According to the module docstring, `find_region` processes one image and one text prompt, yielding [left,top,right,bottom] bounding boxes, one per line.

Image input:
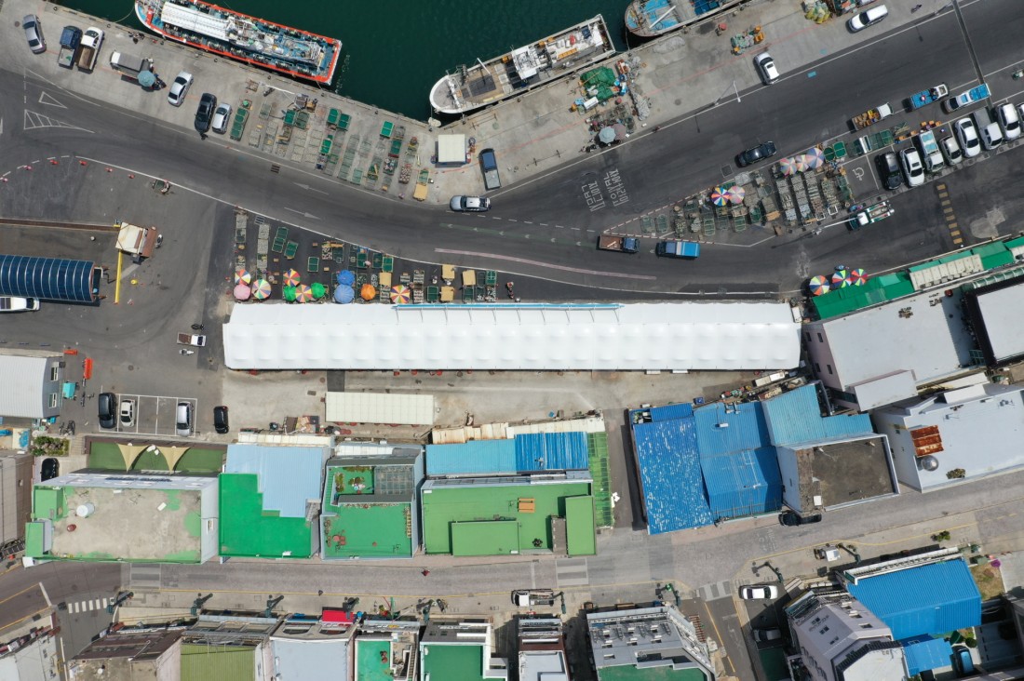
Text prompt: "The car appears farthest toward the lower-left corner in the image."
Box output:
[40,456,61,483]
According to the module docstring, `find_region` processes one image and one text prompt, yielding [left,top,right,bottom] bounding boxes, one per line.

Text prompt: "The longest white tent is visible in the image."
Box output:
[223,302,800,371]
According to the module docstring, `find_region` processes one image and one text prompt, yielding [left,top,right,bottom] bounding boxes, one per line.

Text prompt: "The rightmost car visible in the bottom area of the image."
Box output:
[950,643,977,676]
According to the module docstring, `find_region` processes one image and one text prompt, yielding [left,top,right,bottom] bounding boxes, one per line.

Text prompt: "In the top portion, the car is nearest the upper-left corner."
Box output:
[23,14,49,55]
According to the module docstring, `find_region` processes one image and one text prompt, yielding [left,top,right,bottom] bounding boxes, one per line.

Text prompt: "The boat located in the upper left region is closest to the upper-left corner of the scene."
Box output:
[135,0,342,89]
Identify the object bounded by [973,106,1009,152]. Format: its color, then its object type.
gray truck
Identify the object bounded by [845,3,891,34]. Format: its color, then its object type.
white car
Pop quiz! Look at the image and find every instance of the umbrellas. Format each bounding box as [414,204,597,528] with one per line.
[984,557,1000,568]
[598,126,616,144]
[779,158,796,175]
[728,186,744,203]
[809,275,829,295]
[795,156,810,172]
[283,287,297,301]
[138,69,157,87]
[361,285,376,300]
[391,285,410,302]
[252,279,271,298]
[712,188,730,207]
[612,124,627,141]
[831,269,851,288]
[335,285,355,302]
[312,283,326,297]
[284,269,301,286]
[296,286,312,302]
[338,269,355,286]
[236,270,251,285]
[234,284,251,301]
[806,149,824,168]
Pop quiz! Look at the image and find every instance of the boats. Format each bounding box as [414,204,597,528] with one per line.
[624,0,747,43]
[430,14,615,118]
[135,0,342,89]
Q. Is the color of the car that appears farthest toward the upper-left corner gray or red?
gray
